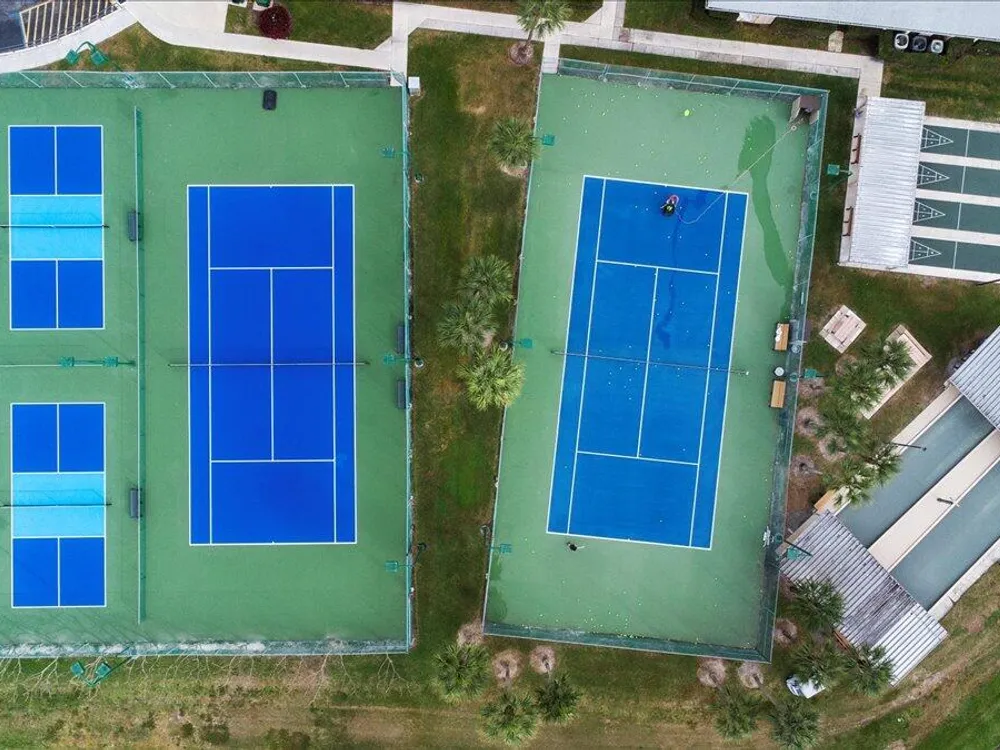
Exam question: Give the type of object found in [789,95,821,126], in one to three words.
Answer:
shed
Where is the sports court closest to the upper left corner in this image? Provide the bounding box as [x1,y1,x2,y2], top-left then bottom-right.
[0,87,144,365]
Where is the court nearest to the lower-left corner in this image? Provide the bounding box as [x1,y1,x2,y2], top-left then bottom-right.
[0,364,146,644]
